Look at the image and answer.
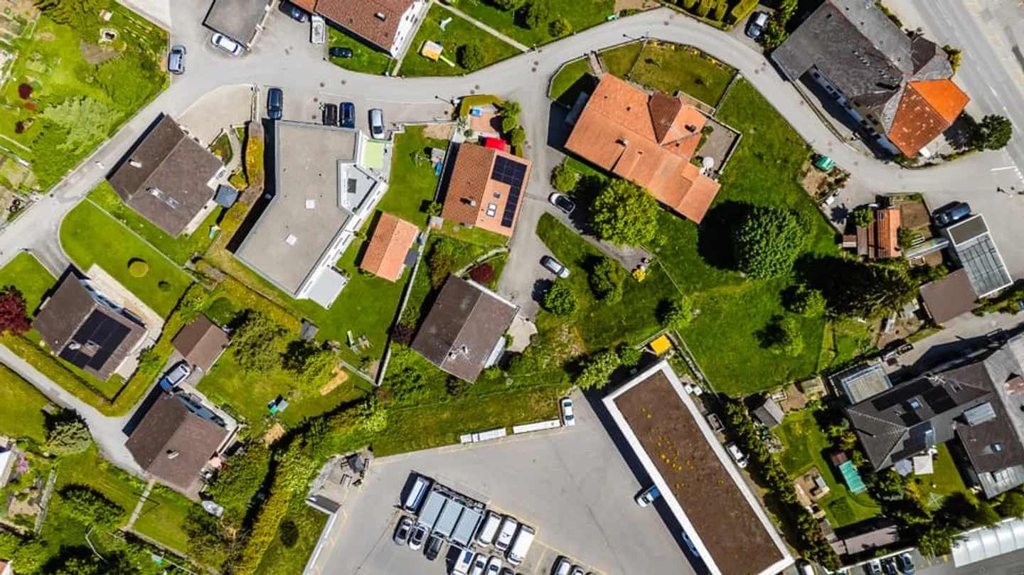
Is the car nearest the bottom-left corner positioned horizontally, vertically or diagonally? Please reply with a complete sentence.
The car nearest the bottom-left corner has been laid out diagonally relative to the frame.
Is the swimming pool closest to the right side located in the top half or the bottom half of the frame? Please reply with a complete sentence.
It is in the bottom half that the swimming pool closest to the right side appears.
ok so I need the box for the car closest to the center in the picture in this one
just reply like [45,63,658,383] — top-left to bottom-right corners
[538,253,572,280]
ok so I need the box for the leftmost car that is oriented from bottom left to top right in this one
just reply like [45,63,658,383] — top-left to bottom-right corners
[160,360,195,392]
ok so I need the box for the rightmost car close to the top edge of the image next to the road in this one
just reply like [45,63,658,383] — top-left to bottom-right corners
[744,9,770,41]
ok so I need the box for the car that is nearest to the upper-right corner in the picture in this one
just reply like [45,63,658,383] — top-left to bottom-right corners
[929,202,972,225]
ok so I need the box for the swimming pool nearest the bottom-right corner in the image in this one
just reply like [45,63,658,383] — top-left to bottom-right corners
[839,460,865,493]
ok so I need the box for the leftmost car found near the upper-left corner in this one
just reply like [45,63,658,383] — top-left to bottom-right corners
[169,44,187,76]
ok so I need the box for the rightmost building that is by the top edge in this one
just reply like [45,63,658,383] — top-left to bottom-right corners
[768,0,969,158]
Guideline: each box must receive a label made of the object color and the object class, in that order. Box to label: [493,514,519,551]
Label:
white vehicle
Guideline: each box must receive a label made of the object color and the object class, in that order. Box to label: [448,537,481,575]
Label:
white truck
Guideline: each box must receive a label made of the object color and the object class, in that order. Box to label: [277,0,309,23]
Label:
black car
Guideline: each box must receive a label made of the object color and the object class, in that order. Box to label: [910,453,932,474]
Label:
white umbrella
